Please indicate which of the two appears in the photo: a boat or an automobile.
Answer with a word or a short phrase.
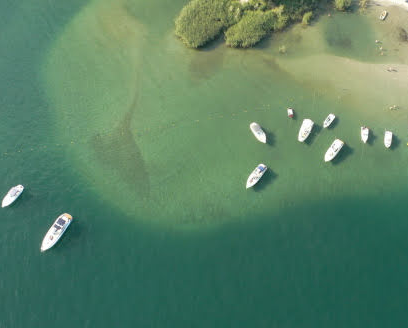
boat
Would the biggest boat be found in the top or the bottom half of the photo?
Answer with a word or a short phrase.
bottom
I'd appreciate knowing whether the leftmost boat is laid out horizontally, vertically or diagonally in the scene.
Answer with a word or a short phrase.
diagonally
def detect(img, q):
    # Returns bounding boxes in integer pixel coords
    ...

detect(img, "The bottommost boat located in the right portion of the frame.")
[247,162,268,187]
